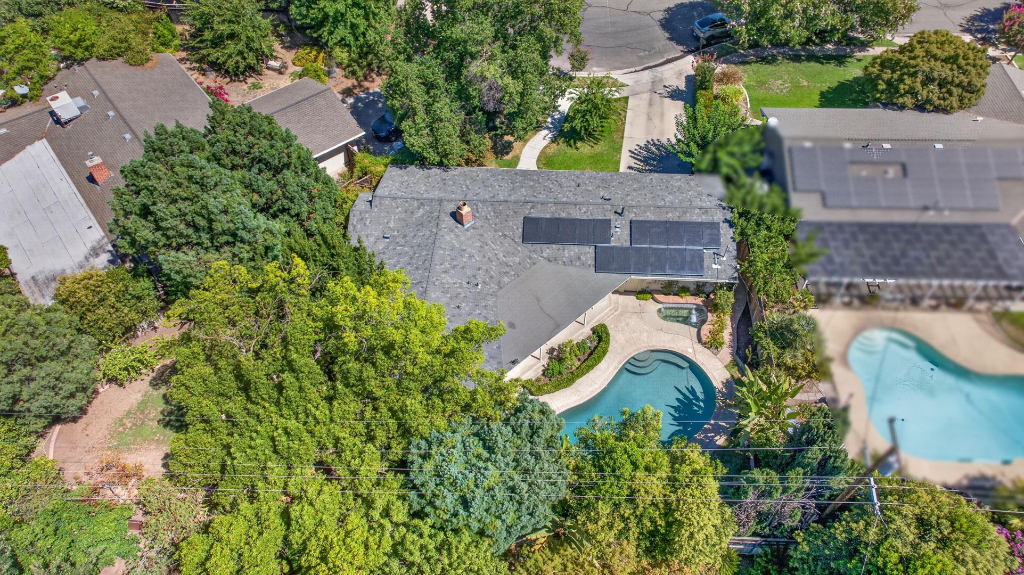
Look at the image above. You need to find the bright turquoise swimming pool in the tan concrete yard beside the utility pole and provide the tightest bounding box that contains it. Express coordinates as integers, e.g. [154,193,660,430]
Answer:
[841,323,1024,467]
